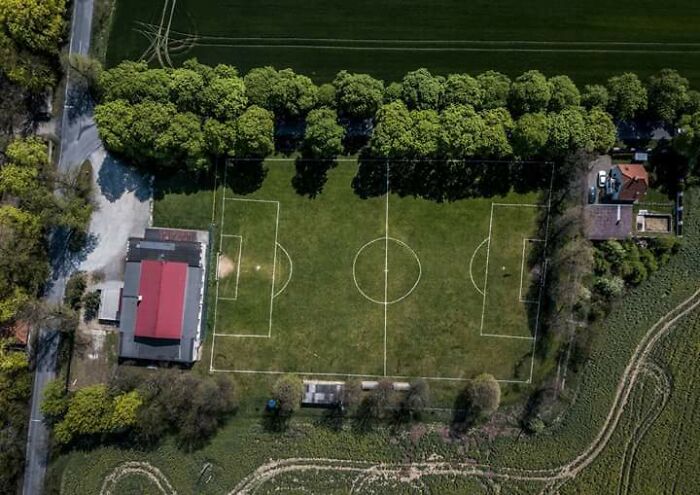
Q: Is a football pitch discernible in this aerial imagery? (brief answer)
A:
Yes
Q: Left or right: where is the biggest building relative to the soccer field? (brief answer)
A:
to the left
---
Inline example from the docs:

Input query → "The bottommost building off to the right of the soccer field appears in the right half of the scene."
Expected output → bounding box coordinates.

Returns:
[581,204,632,239]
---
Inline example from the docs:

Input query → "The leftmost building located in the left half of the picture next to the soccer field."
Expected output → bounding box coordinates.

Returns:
[120,228,213,364]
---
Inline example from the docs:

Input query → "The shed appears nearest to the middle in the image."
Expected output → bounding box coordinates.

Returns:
[301,375,343,403]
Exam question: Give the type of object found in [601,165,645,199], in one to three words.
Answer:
house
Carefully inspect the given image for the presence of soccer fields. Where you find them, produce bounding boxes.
[204,155,560,388]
